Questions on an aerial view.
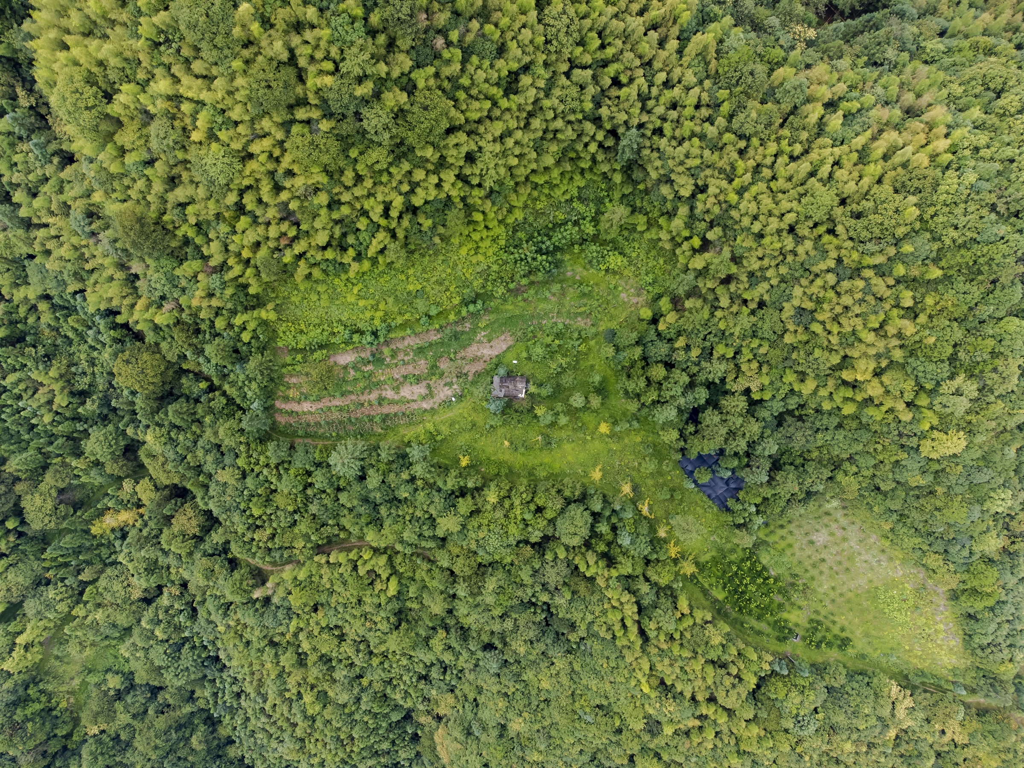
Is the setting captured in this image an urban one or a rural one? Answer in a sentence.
From above, the setting appears rural.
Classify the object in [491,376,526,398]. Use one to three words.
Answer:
shed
